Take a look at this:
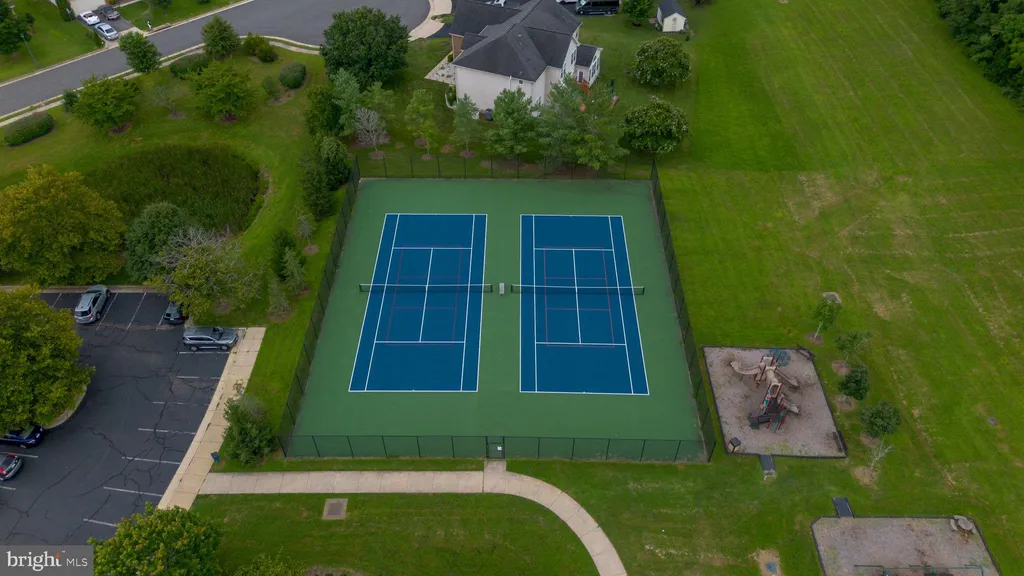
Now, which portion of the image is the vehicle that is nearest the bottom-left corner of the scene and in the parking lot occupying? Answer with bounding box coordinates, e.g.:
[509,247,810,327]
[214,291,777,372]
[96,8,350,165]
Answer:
[0,451,28,480]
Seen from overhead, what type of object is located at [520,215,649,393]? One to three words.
tennis court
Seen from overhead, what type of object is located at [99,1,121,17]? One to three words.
car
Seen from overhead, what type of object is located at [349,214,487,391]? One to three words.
tennis court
